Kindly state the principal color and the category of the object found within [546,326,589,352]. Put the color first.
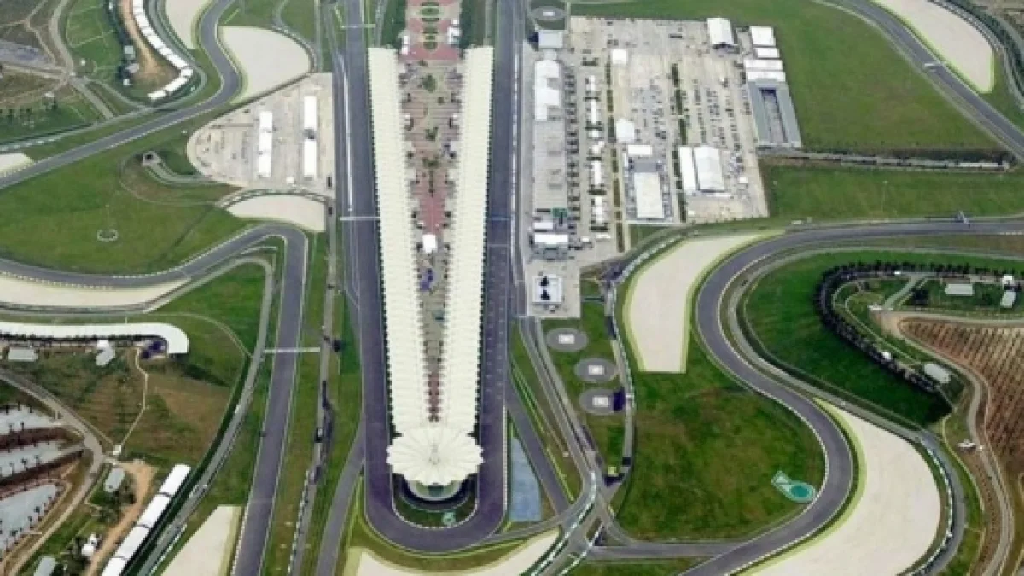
gray helipad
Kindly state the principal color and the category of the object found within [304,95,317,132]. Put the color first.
white tent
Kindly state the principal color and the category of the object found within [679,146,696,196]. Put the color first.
white tent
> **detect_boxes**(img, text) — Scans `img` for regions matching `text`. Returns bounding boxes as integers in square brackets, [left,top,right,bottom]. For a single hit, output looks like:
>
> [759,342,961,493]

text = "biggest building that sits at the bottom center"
[384,425,482,505]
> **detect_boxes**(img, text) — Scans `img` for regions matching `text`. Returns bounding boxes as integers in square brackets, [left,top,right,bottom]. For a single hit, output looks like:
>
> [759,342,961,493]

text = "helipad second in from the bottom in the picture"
[573,356,618,383]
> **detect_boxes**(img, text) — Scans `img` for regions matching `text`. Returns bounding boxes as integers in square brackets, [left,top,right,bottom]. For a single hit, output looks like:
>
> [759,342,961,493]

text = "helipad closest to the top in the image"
[531,6,565,21]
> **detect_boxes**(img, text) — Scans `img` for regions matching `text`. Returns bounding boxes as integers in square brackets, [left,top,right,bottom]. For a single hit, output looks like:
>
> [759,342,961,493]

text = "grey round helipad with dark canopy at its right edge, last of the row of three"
[579,387,618,416]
